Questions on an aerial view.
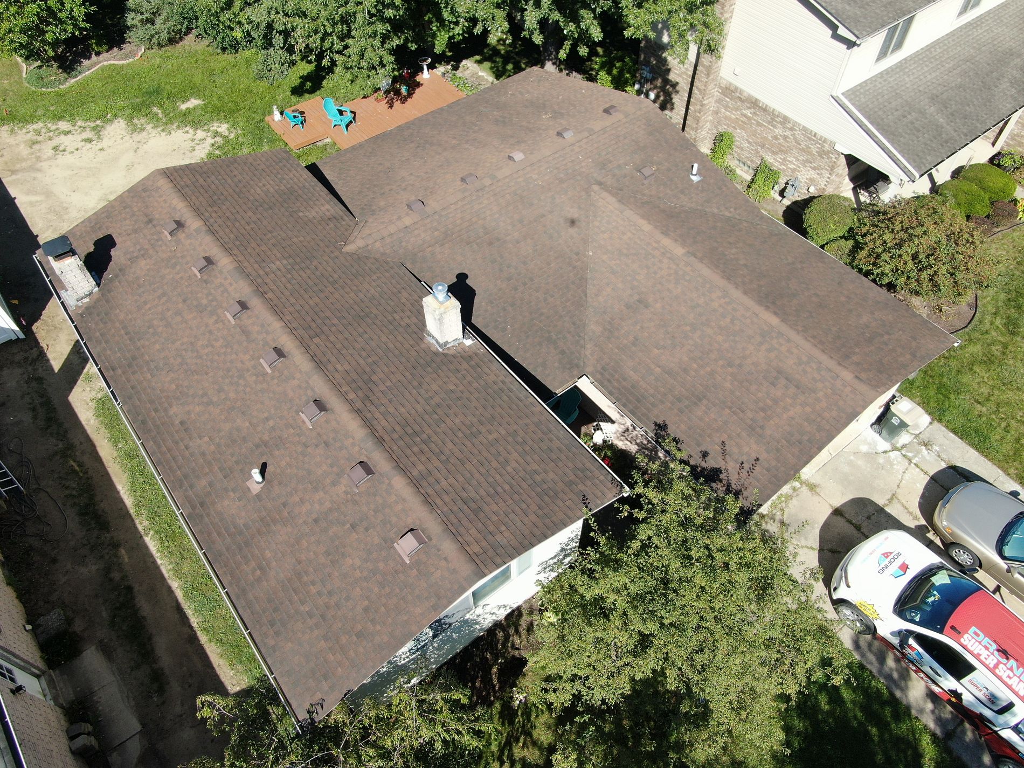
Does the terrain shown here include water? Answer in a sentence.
No, there is no water in the image.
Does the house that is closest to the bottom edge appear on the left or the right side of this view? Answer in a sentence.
The house that is closest to the bottom edge appears in the left half of the scene.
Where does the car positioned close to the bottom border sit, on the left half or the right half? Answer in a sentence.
The car positioned close to the bottom border sits on the right side.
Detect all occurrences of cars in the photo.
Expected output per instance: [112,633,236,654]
[831,529,1024,768]
[923,477,1024,602]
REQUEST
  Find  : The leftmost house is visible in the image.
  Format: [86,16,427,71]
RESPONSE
[0,541,93,768]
